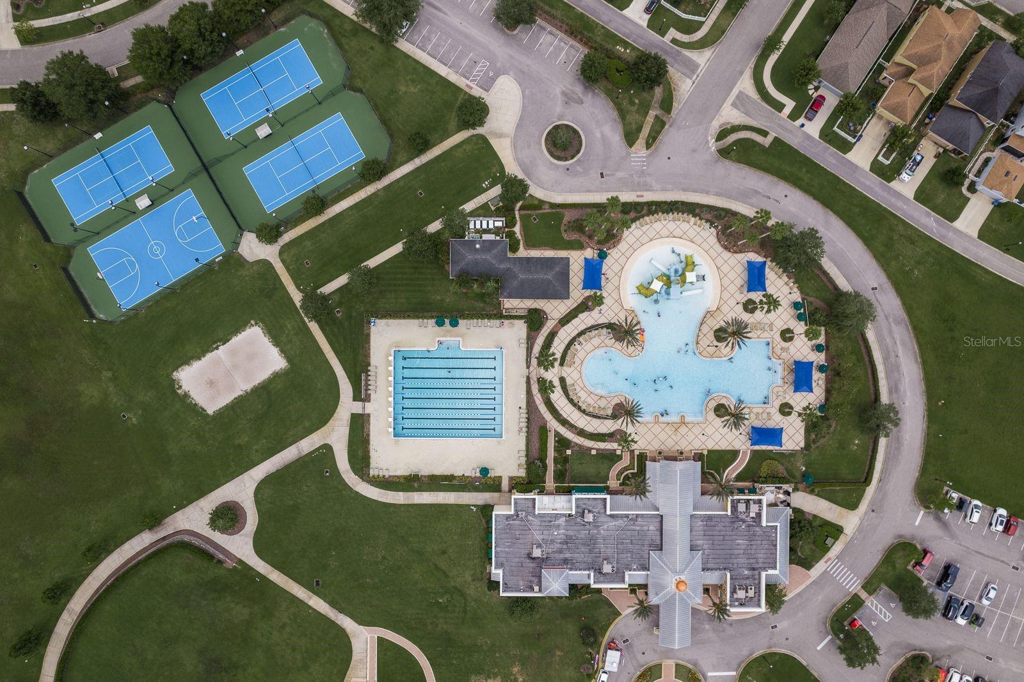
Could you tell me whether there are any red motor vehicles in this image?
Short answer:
Yes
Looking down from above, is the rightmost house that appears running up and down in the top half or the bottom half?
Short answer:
top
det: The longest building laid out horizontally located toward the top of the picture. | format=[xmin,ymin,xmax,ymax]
[450,239,572,299]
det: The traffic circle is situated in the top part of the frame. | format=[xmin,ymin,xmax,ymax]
[542,121,586,164]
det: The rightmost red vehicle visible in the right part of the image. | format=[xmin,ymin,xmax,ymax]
[1001,515,1018,537]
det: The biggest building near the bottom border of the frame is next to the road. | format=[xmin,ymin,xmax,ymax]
[489,459,789,649]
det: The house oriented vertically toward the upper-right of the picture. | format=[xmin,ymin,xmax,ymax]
[974,87,1024,201]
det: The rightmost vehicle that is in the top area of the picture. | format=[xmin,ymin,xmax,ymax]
[899,154,923,182]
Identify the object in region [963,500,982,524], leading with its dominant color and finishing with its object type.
white car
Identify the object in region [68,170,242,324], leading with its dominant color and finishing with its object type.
blue basketball court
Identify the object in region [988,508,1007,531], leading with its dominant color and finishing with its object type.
white car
